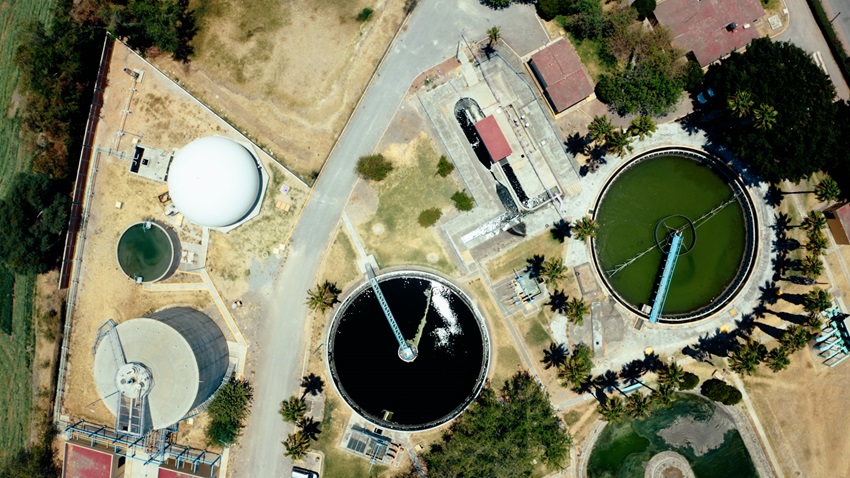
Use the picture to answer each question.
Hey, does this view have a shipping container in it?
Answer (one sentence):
No, the picture doesn't show any shipping container.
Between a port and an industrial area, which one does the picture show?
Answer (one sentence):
It's an industrial area.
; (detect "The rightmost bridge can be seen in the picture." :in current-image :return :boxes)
[649,232,686,324]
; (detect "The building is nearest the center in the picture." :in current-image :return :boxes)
[490,268,549,319]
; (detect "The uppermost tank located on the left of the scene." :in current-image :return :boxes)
[115,222,183,285]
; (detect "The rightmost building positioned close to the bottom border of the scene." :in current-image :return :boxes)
[340,412,409,472]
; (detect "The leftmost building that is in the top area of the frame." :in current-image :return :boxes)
[521,38,597,120]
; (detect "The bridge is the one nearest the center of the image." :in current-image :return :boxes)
[363,261,411,354]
